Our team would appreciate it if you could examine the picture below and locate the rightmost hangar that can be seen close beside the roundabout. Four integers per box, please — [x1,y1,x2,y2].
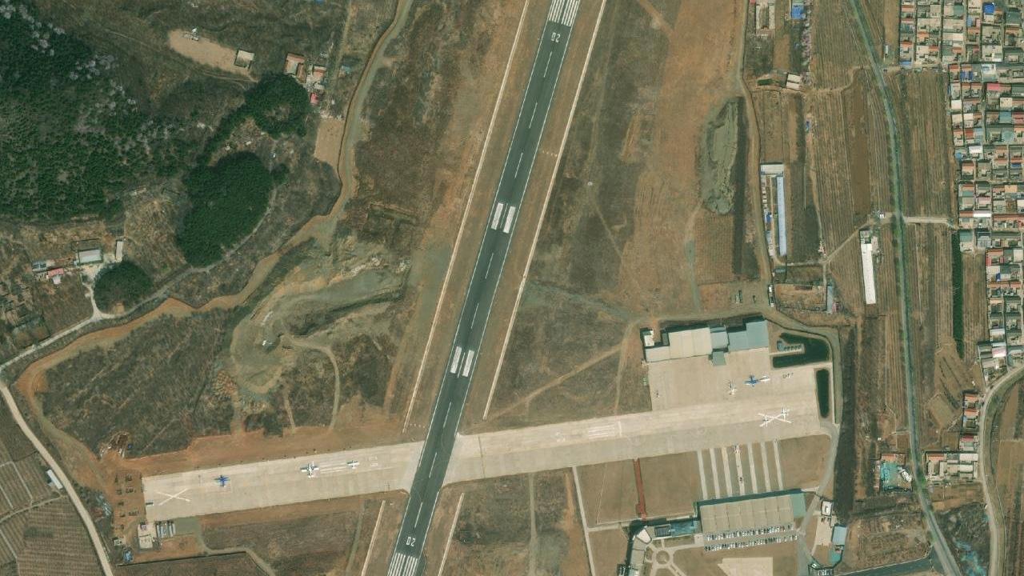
[700,495,795,535]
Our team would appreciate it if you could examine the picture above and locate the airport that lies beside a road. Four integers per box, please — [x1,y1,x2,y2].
[143,0,832,576]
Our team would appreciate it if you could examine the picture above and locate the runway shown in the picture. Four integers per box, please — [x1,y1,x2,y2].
[387,0,581,576]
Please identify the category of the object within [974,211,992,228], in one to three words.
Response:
house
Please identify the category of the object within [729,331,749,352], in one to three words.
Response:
hangar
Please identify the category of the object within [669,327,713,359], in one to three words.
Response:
hangar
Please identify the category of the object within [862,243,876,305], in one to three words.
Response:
greenhouse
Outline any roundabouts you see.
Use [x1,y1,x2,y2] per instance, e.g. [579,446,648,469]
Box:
[644,539,704,576]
